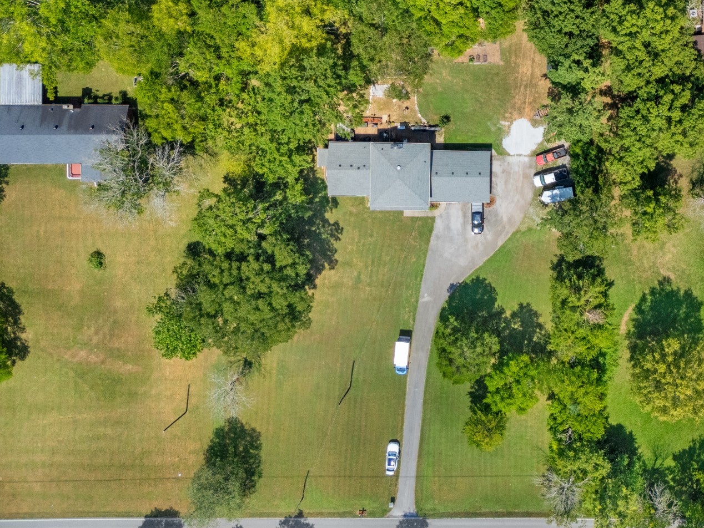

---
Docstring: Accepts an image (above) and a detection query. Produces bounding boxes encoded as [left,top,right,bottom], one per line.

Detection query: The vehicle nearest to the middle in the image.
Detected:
[390,332,408,370]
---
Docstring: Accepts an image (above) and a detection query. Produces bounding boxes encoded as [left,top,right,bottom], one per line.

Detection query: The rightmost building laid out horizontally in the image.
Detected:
[316,141,492,212]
